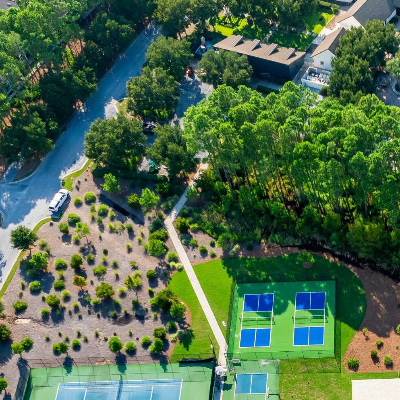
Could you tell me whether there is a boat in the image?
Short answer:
No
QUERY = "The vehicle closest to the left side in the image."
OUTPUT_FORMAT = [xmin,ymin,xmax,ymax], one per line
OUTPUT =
[51,191,70,211]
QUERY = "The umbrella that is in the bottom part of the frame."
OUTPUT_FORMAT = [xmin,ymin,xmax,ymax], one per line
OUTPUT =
[214,365,229,378]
